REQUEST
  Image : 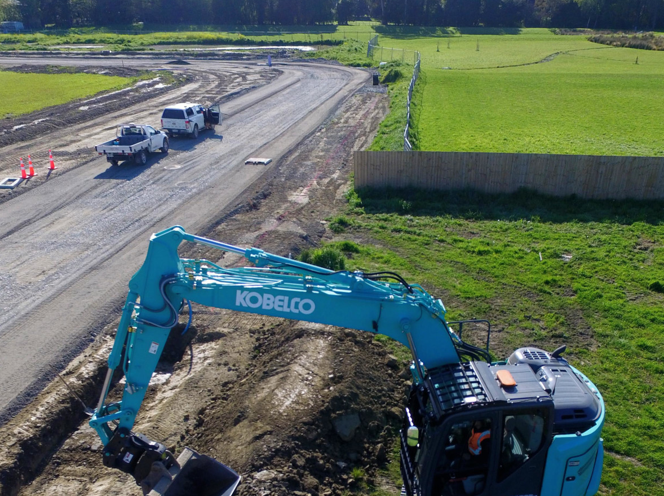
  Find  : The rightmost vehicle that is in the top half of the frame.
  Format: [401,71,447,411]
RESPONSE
[158,100,222,137]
